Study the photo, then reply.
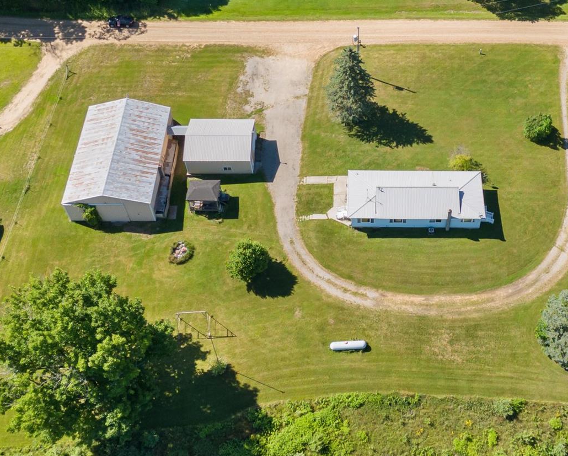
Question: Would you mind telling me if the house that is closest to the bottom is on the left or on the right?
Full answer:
It is on the right.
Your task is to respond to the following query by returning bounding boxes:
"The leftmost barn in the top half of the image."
[63,99,173,224]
